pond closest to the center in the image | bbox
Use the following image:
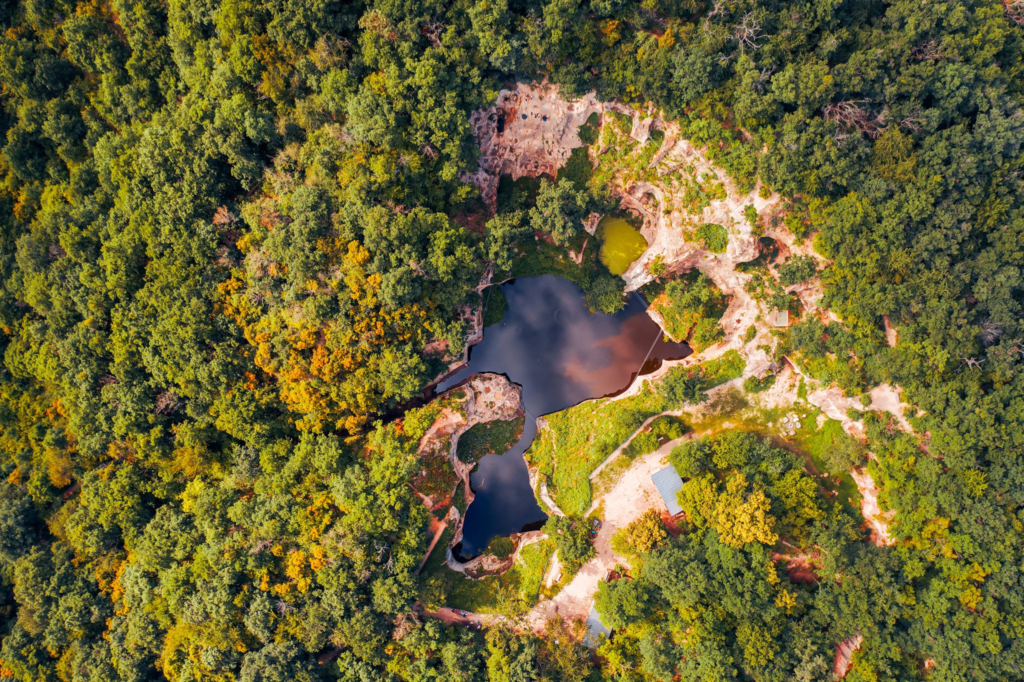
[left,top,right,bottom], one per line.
[596,216,646,275]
